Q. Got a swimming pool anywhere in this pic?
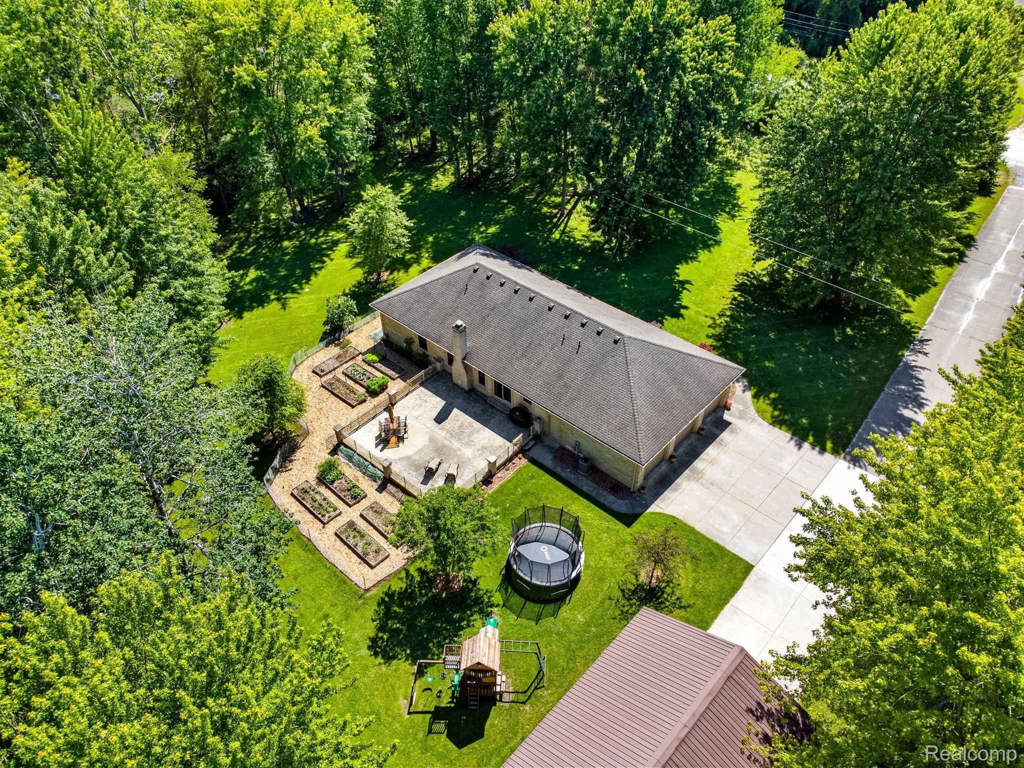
No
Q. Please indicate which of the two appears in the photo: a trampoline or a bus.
trampoline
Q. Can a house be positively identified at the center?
Yes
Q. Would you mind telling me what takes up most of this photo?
trees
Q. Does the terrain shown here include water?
No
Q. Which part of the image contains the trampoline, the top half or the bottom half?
bottom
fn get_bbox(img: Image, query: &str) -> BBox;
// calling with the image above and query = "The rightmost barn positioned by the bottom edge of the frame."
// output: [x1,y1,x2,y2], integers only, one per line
[501,605,816,768]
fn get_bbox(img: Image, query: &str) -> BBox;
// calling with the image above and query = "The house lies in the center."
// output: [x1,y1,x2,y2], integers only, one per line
[367,242,747,492]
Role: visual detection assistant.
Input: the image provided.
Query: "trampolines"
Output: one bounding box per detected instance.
[505,502,588,598]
